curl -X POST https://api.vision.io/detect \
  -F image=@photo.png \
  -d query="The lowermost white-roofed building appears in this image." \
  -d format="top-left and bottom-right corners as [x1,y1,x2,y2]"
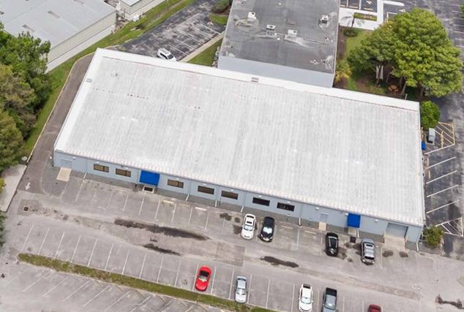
[54,46,423,242]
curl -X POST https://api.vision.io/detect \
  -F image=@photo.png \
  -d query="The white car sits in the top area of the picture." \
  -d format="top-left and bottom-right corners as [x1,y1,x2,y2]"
[154,45,177,59]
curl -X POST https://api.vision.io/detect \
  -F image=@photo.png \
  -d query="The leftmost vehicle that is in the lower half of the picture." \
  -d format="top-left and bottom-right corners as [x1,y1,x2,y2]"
[195,266,210,293]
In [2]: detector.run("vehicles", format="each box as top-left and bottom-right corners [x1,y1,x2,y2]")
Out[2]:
[325,231,339,258]
[367,303,381,312]
[241,213,256,240]
[259,215,274,242]
[360,239,375,266]
[195,266,210,293]
[297,283,312,312]
[154,45,177,59]
[321,286,337,312]
[233,275,248,305]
